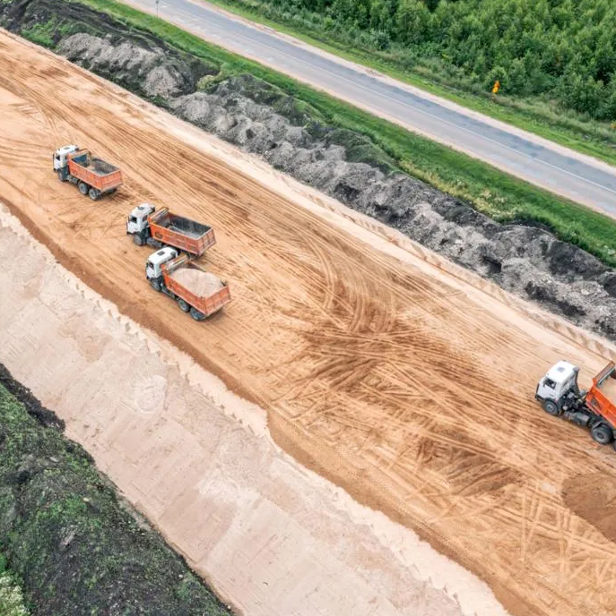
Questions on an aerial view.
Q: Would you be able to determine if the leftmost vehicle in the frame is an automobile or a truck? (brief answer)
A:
truck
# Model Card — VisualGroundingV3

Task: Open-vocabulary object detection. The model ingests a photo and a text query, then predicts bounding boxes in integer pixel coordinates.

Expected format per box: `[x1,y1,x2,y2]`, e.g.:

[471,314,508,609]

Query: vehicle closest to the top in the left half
[49,139,123,199]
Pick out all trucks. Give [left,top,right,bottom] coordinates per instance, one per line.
[123,199,214,261]
[49,139,123,199]
[534,352,616,445]
[141,239,236,319]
